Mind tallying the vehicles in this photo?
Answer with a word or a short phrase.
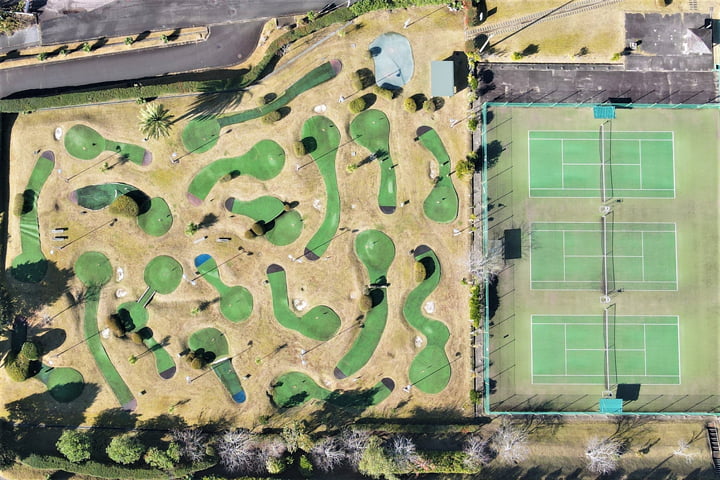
0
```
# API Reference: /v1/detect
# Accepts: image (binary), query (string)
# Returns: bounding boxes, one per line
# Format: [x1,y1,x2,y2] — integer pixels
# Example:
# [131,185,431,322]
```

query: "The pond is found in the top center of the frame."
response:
[367,31,415,89]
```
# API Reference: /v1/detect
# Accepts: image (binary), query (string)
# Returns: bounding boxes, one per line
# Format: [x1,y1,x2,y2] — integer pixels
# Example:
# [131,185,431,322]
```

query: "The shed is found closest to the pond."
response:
[431,61,454,96]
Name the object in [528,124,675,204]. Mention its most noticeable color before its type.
green tennis court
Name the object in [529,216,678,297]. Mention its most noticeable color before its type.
green tennis court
